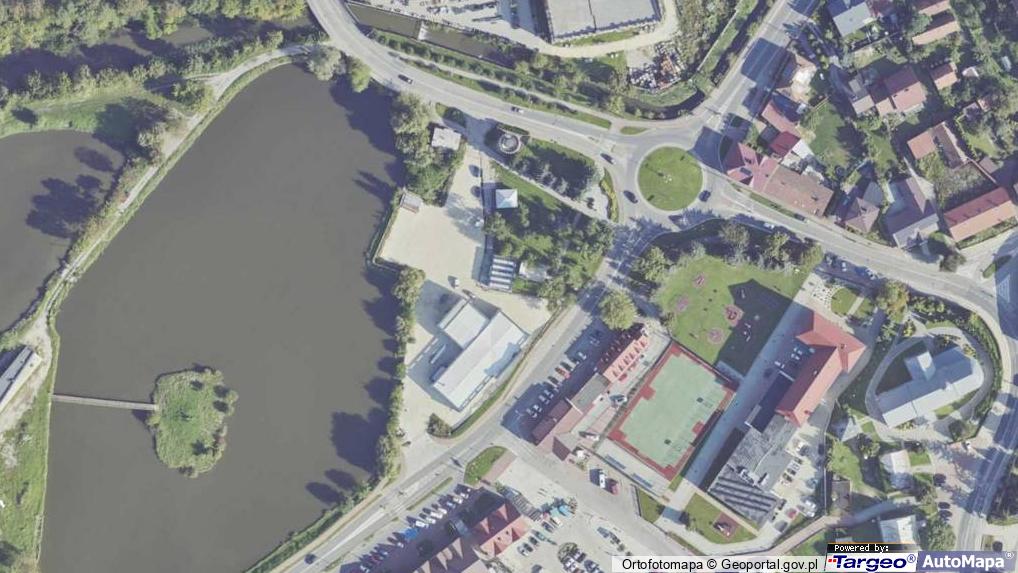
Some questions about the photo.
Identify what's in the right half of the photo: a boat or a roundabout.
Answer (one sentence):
Looking in the right half of the photo, you will find a roundabout.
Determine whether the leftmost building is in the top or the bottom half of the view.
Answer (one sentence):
The leftmost building sits in the bottom half of the picture.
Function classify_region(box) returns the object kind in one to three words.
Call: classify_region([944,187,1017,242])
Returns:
house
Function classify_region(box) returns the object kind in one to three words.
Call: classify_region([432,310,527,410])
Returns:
building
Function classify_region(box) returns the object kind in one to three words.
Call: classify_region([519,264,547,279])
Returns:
shed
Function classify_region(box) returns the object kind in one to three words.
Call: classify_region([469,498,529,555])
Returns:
building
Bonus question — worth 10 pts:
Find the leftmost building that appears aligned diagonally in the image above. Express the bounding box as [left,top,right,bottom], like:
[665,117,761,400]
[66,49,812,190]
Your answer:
[0,347,43,411]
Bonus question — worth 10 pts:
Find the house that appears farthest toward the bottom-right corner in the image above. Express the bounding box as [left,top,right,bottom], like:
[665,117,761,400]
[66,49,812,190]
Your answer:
[880,515,920,556]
